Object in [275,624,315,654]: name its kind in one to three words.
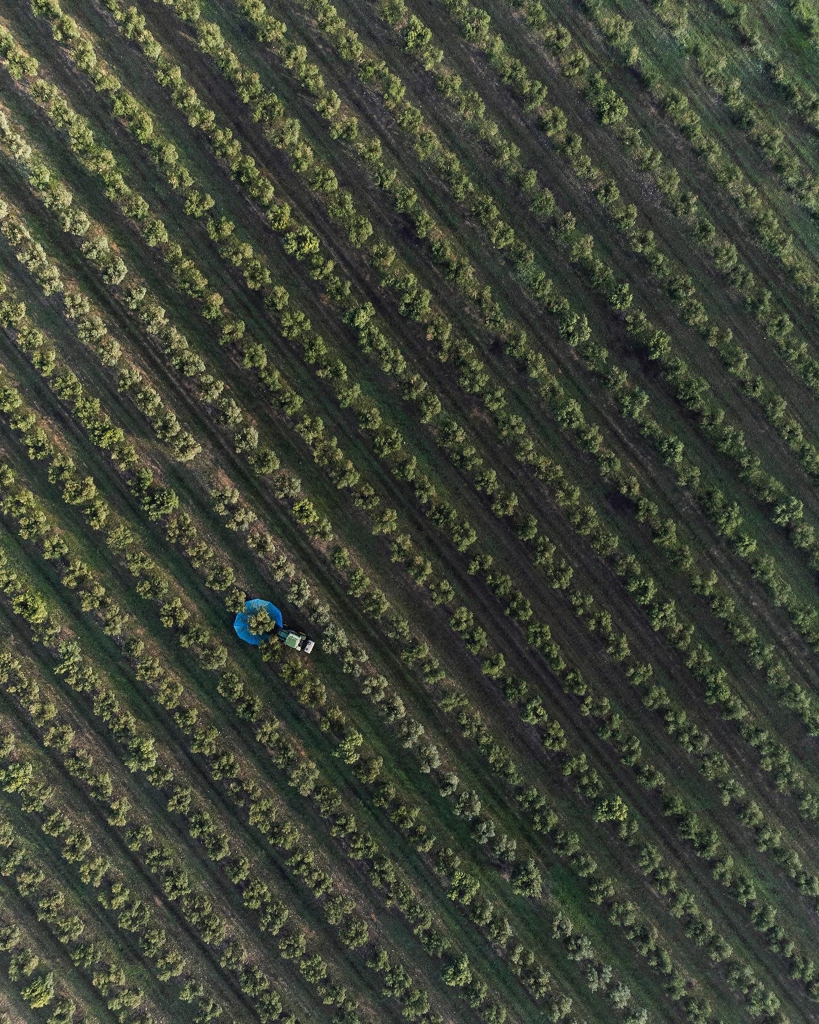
work vehicle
